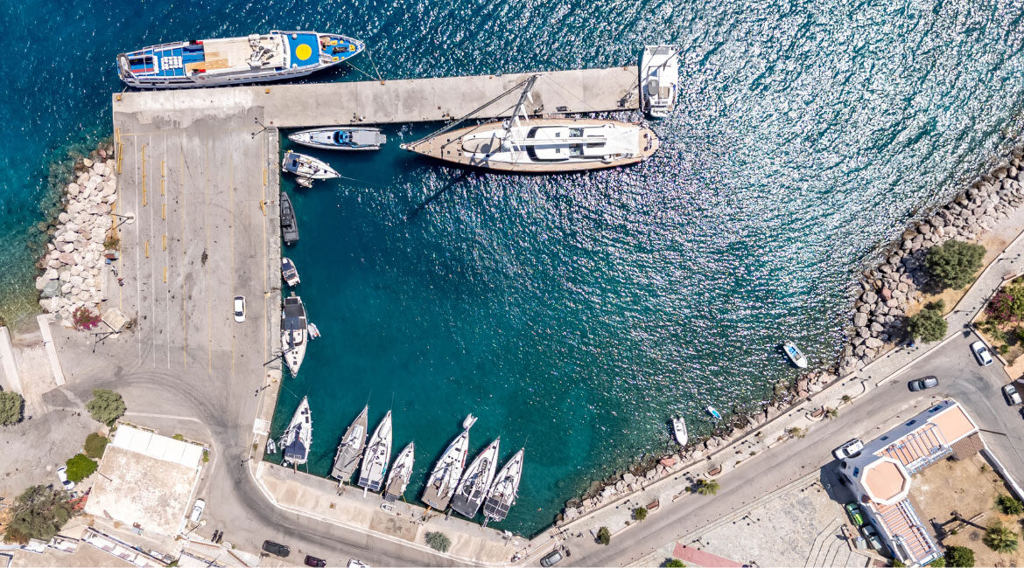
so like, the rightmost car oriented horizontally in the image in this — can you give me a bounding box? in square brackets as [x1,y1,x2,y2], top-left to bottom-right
[907,376,937,391]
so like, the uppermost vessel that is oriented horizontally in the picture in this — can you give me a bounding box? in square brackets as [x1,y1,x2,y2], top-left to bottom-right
[118,30,367,87]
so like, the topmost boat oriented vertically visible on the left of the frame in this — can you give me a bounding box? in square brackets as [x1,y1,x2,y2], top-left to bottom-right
[280,192,298,244]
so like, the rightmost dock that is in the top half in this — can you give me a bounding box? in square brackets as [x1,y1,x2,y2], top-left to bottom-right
[112,66,641,128]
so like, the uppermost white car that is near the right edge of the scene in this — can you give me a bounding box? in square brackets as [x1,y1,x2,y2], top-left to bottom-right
[971,339,993,368]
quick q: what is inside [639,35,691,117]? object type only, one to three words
boat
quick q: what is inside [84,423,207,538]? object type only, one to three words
building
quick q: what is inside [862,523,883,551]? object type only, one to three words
car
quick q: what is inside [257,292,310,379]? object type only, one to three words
boat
